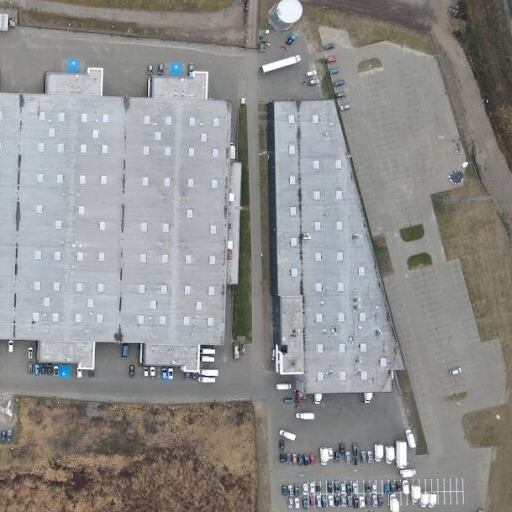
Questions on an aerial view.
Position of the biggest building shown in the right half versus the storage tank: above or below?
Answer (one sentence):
The biggest building shown in the right half is located below the storage tank in this view.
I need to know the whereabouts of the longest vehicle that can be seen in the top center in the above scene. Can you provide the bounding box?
[258,54,302,74]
